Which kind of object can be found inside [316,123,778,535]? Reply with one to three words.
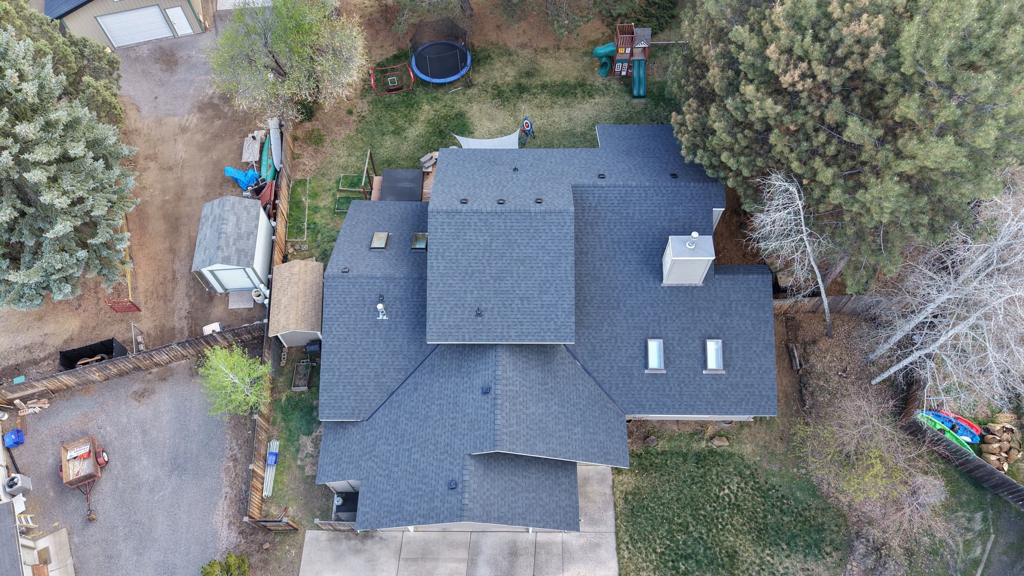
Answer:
house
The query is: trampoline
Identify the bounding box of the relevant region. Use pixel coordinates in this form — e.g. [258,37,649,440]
[404,16,473,96]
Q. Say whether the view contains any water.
No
